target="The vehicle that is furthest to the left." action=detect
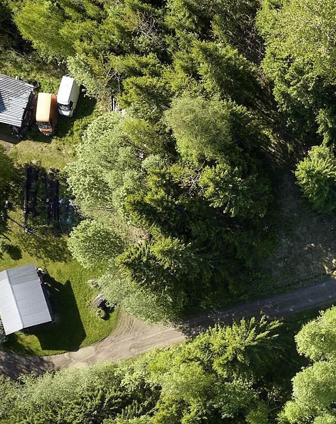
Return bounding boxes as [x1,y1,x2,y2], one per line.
[38,92,60,136]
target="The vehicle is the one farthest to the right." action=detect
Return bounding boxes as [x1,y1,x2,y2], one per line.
[55,73,81,117]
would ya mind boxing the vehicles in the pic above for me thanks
[38,92,60,136]
[55,73,81,117]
